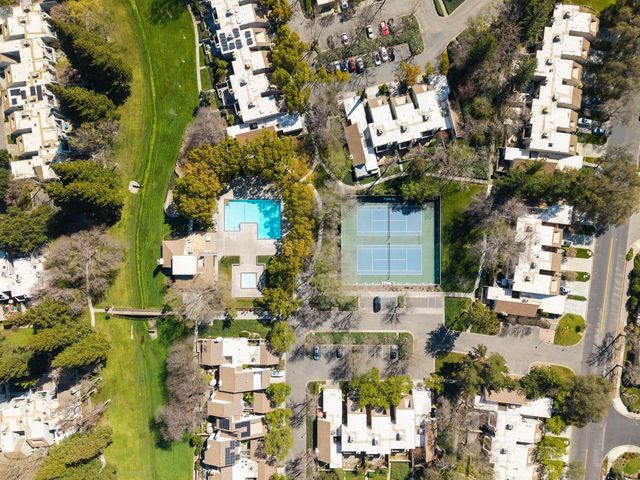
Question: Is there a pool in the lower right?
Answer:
No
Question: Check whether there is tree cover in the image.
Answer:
Yes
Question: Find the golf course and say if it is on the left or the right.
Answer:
left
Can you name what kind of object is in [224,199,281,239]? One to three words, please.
swimming pool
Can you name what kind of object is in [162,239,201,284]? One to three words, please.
building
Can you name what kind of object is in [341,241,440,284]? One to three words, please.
tennis court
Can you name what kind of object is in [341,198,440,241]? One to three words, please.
tennis court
